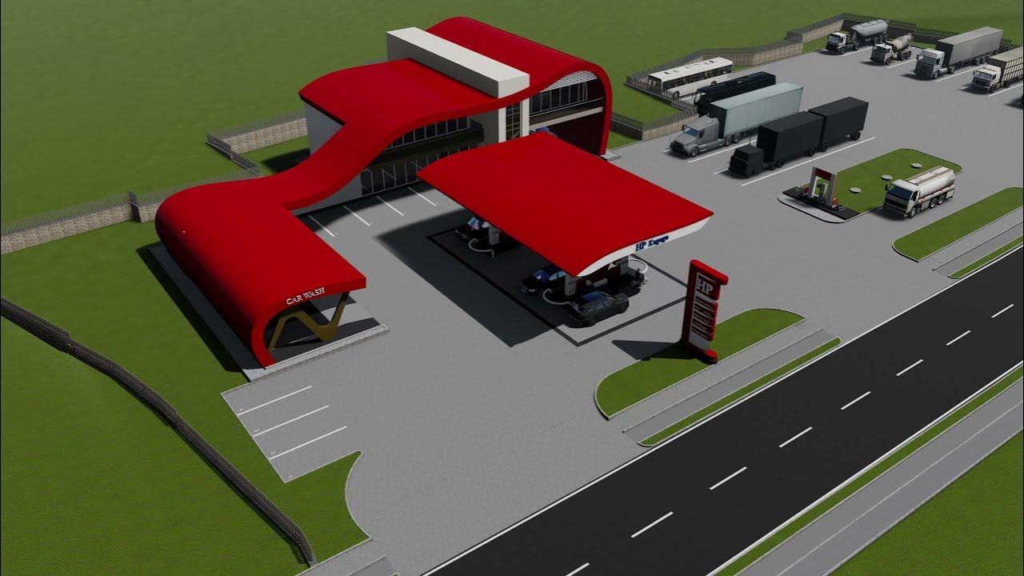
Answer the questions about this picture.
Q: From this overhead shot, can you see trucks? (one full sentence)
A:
Yes, I can see a truck in this picture.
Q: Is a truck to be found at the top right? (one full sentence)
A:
Yes, at the top right there is a truck.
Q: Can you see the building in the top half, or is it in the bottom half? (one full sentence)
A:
Seen from above, the building lies in the top half of the view.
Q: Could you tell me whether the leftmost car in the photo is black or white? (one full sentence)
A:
From above, the leftmost car appears black.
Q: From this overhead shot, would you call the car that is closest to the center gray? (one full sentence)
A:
No, from above the car that is closest to the center looks black.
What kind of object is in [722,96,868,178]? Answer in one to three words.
truck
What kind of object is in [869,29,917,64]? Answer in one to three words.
truck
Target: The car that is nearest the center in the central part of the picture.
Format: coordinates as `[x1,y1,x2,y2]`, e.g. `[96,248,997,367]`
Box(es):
[519,262,565,295]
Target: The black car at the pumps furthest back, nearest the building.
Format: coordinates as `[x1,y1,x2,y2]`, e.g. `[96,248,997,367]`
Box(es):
[453,212,489,238]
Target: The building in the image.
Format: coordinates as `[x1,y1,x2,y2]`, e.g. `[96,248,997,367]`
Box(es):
[153,17,623,382]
